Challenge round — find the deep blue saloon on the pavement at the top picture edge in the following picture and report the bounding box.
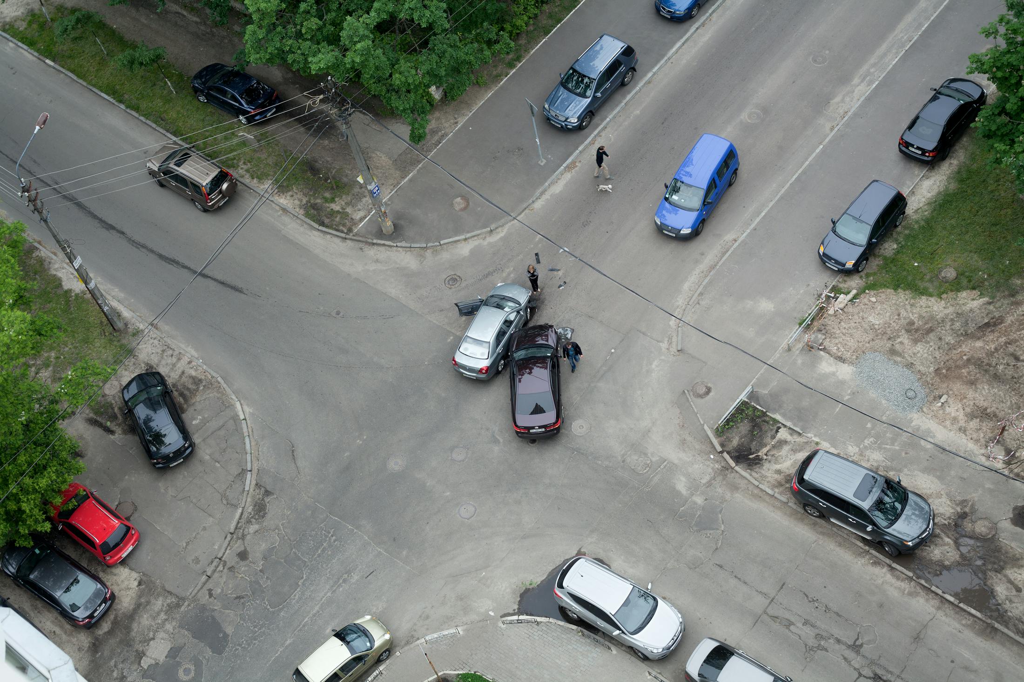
[659,0,711,21]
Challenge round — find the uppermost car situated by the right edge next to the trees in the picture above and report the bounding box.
[897,73,988,164]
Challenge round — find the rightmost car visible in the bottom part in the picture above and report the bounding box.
[787,446,938,558]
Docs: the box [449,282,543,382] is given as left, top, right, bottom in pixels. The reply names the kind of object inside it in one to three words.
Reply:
car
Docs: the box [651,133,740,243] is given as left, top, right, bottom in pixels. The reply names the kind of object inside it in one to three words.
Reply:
van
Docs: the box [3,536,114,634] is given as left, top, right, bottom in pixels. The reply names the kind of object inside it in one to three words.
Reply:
car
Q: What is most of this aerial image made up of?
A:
paved ground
